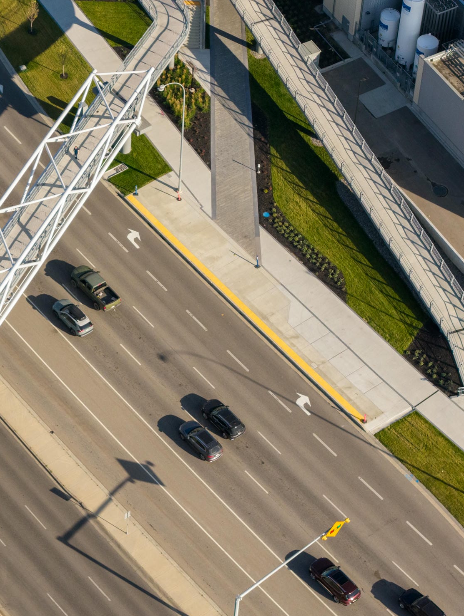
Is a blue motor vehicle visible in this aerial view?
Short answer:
No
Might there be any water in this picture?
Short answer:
No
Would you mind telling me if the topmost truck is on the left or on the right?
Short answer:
left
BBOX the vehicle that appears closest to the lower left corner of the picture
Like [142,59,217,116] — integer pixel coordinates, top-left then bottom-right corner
[179,419,224,468]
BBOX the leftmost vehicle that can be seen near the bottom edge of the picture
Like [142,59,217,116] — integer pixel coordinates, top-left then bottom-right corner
[309,556,363,612]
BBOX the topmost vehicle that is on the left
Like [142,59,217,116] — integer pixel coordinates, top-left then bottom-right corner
[72,264,122,313]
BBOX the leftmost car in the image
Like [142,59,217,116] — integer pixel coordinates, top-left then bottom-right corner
[52,298,94,340]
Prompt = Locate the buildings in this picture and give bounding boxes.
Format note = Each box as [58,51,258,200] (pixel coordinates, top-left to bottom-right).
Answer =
[323,0,405,37]
[411,35,464,163]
